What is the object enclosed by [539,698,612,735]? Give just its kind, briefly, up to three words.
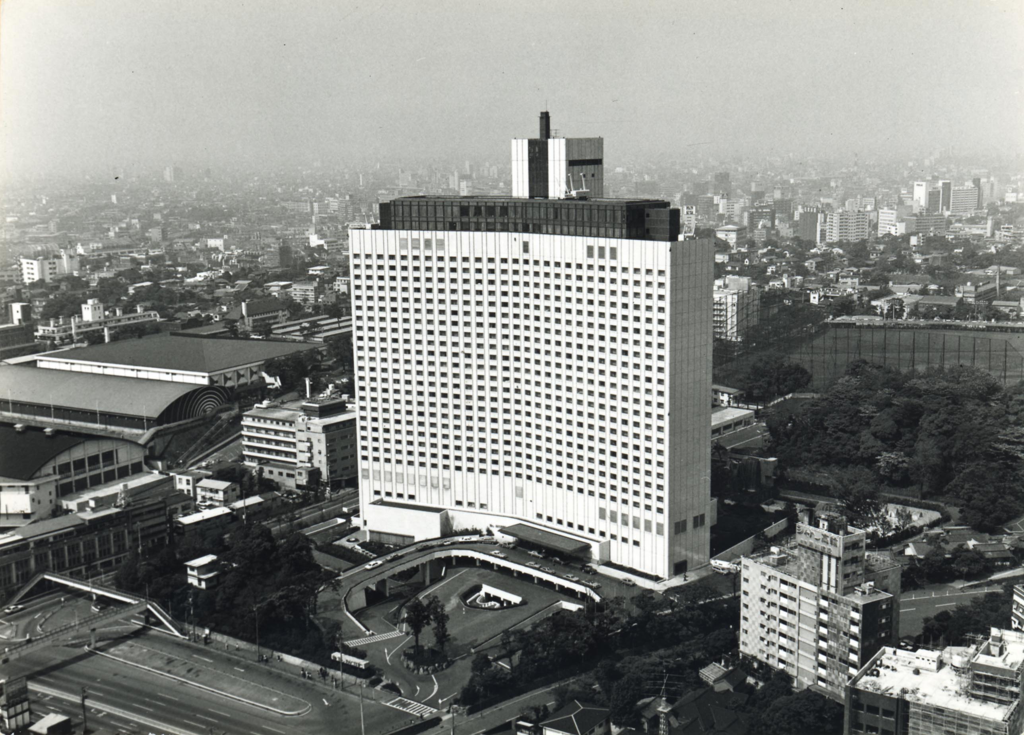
house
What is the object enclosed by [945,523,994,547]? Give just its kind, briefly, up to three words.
house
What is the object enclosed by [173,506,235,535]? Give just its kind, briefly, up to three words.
shed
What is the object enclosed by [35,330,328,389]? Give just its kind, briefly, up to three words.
building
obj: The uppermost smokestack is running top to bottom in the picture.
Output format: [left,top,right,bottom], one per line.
[541,102,554,138]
